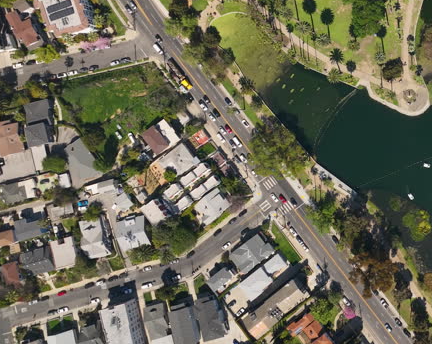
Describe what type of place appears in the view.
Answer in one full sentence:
The picture captures a residential area.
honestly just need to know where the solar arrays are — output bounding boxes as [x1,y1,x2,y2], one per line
[48,7,75,20]
[46,0,72,12]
